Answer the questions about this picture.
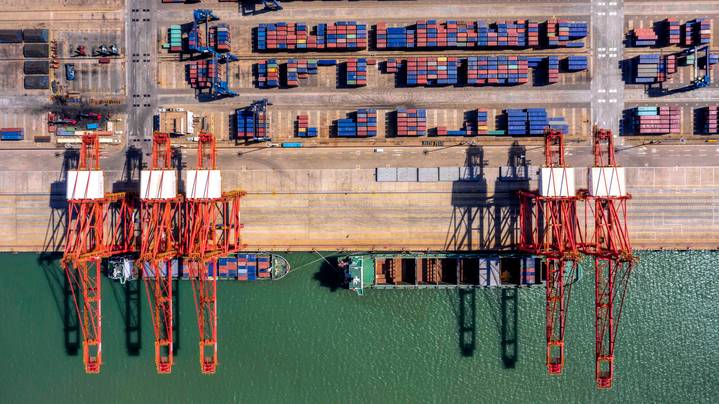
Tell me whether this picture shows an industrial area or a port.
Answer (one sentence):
The picture captures a port.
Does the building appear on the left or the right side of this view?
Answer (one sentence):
The building is on the left side of the image.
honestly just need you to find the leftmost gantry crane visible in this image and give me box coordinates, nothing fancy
[53,134,149,374]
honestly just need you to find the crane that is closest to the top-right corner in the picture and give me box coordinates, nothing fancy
[671,41,711,91]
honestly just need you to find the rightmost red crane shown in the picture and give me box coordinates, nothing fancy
[550,129,638,389]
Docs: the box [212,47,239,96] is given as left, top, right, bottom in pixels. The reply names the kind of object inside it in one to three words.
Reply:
crane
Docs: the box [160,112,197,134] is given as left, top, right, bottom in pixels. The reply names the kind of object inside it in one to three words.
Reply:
building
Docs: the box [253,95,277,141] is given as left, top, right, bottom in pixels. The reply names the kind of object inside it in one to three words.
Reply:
crane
